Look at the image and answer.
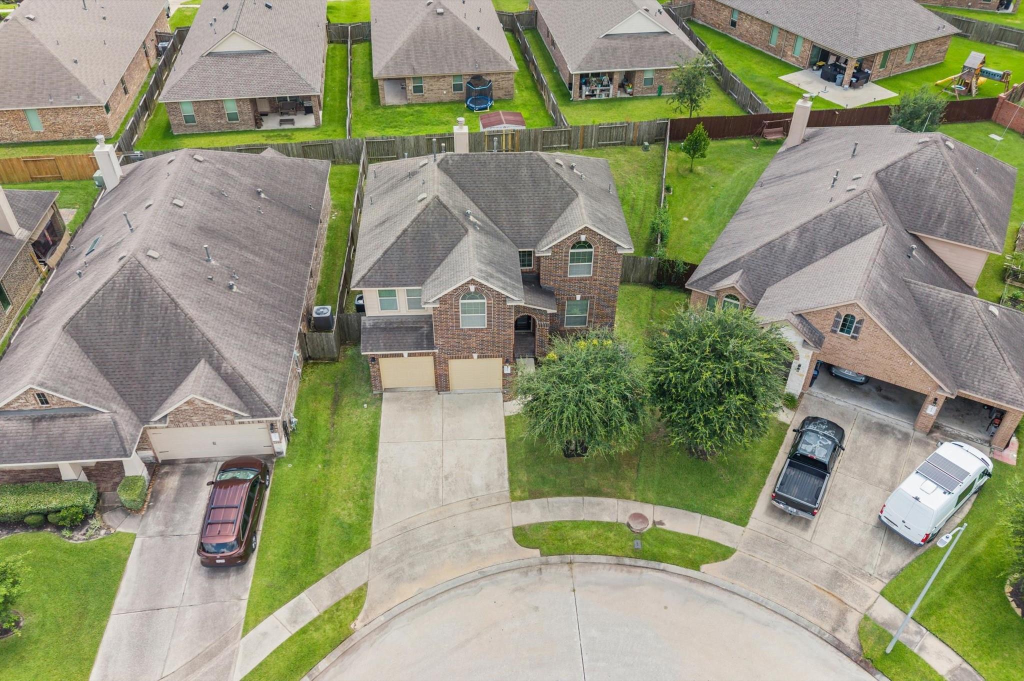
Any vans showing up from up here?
Yes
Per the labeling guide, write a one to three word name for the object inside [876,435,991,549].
van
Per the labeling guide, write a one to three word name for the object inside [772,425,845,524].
truck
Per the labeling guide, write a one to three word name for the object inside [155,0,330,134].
house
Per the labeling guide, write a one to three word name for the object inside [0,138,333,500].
house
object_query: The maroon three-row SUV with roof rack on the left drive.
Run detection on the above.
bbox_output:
[199,454,272,567]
